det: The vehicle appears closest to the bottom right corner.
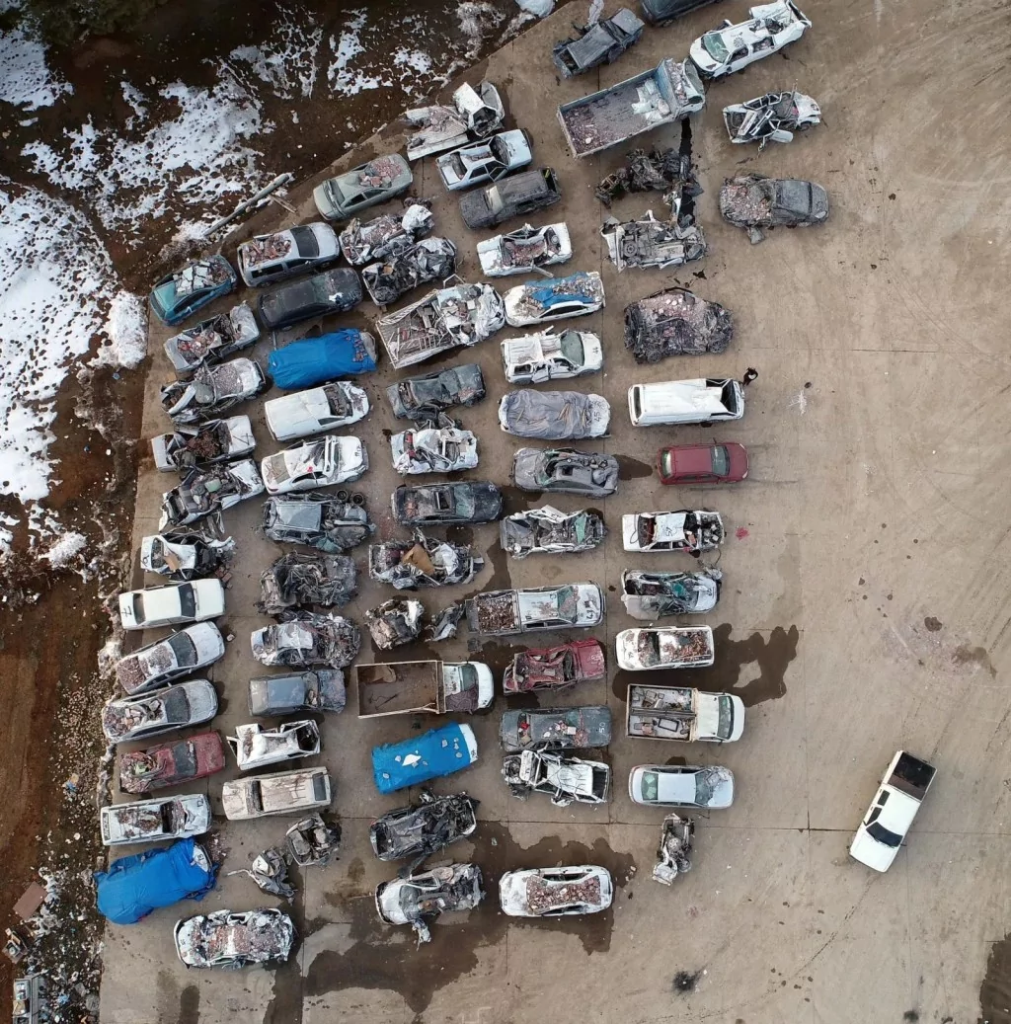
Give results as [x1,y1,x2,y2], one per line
[848,749,939,872]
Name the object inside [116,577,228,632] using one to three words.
car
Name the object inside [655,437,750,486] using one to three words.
car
